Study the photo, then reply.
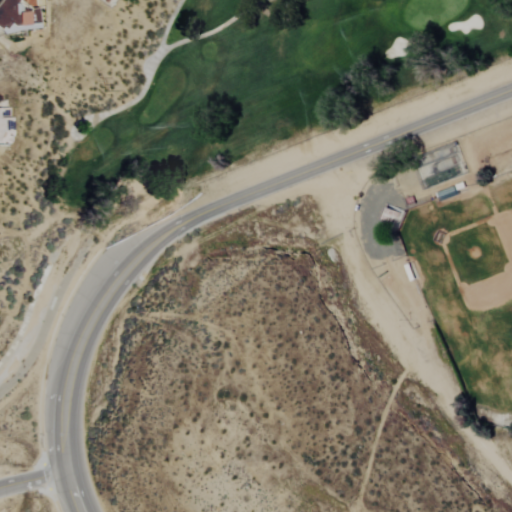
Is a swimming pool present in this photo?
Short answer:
No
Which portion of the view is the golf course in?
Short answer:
top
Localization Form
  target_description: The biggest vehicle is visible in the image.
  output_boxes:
[436,184,465,200]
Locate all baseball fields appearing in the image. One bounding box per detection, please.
[400,178,512,412]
